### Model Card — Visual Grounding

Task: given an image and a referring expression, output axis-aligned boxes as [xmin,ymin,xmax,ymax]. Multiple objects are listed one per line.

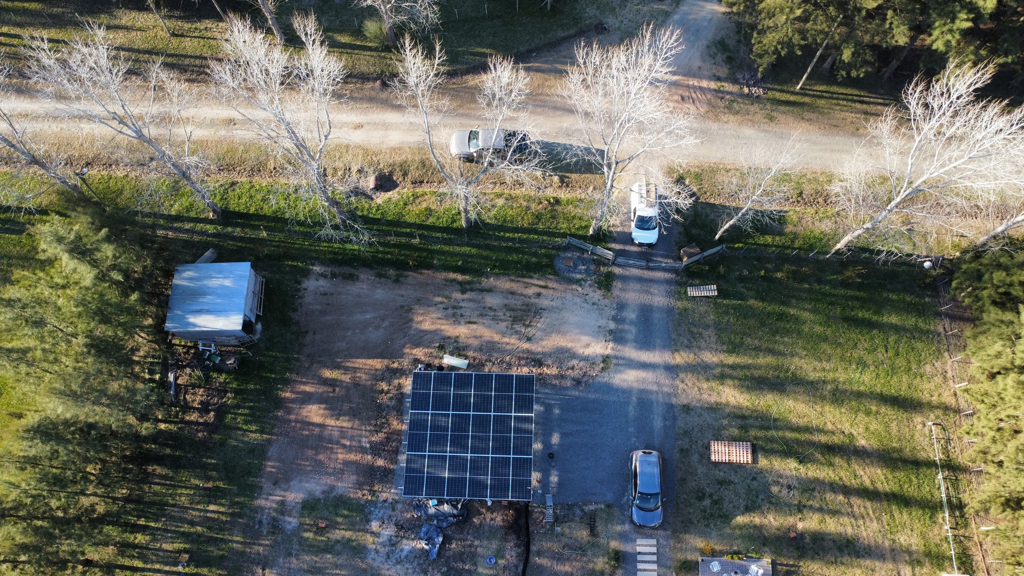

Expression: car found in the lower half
[628,450,668,528]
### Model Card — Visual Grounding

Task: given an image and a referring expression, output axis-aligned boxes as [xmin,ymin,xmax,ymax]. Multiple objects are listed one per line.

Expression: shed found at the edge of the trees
[165,262,273,338]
